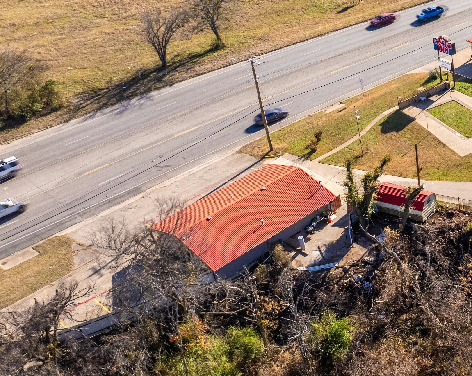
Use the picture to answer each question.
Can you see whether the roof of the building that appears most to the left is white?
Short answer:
No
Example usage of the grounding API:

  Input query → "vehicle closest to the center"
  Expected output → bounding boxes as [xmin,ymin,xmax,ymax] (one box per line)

[253,109,289,128]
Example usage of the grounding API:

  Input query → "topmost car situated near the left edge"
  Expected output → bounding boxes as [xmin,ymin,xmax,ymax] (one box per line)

[0,154,23,177]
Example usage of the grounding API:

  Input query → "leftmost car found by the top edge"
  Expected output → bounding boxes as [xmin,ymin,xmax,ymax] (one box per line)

[371,13,396,27]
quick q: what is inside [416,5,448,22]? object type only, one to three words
vehicle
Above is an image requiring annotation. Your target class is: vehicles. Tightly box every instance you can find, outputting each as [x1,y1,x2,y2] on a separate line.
[371,13,396,27]
[0,199,29,222]
[416,5,448,22]
[253,109,289,128]
[0,154,23,177]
